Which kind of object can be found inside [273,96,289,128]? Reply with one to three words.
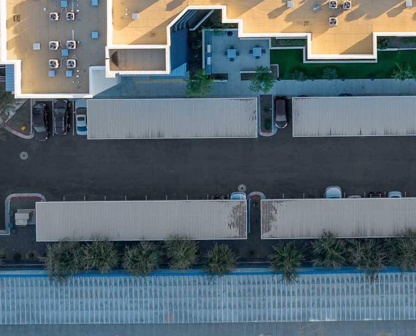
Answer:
car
